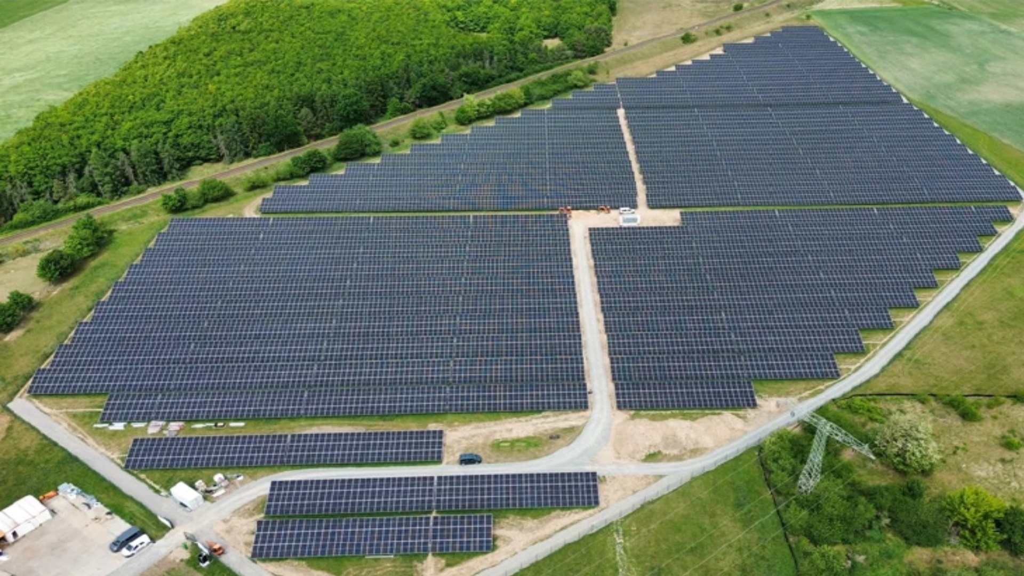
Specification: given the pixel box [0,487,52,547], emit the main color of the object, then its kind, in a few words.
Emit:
white tent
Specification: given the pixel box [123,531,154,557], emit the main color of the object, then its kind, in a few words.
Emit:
white vehicle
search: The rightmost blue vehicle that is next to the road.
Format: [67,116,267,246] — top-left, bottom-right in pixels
[459,454,482,466]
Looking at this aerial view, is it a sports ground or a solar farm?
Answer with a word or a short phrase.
solar farm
